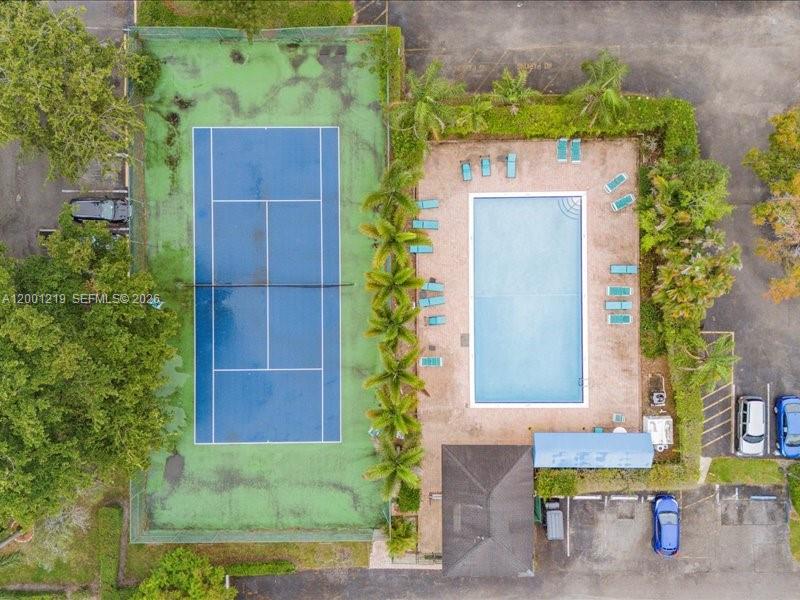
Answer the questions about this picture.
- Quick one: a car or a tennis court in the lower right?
car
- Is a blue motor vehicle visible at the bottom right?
Yes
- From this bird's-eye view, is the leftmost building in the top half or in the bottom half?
bottom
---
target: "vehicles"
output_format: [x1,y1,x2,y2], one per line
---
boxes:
[736,395,770,458]
[773,395,800,459]
[66,195,128,225]
[542,498,564,540]
[652,492,684,558]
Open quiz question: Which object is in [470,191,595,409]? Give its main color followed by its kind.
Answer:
white swimming pool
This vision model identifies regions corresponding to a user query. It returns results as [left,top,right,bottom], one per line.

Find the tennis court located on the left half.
[144,39,389,531]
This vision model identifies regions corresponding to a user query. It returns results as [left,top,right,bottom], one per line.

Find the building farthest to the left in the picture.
[441,445,537,578]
